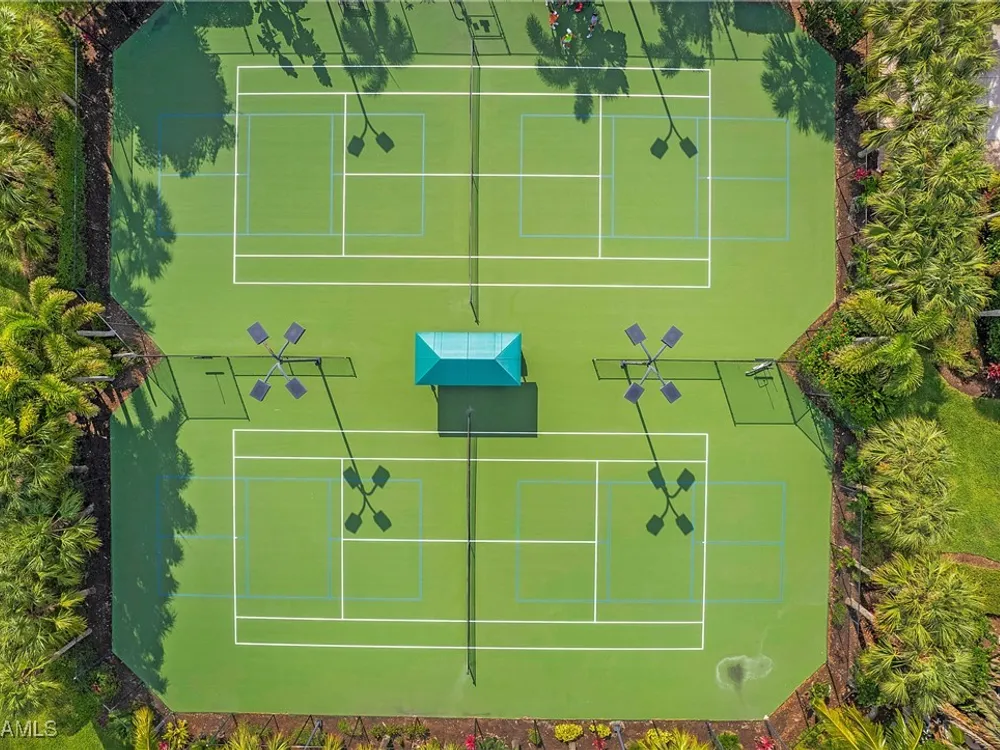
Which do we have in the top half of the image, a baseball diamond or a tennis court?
tennis court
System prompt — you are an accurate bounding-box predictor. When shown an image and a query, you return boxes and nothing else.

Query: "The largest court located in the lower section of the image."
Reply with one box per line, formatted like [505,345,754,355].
[109,356,832,720]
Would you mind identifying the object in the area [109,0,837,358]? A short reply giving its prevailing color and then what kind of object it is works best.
green tennis court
